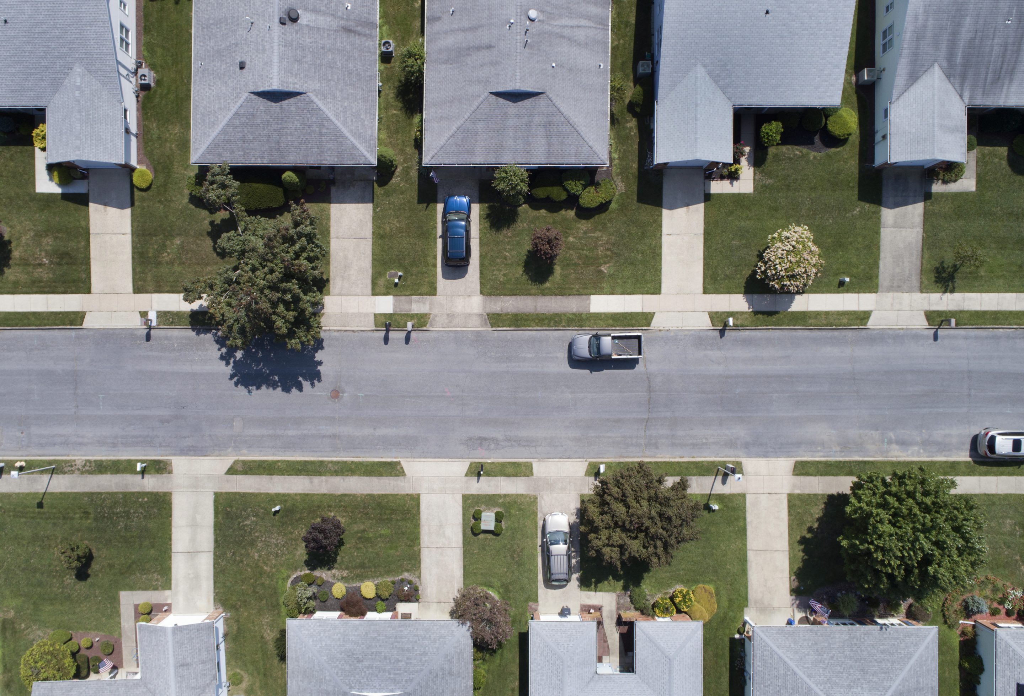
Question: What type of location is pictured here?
residential area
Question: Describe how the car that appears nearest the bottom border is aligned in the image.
vertically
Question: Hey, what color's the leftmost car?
blue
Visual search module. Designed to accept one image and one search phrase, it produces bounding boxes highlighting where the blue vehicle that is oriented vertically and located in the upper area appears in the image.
[440,197,474,267]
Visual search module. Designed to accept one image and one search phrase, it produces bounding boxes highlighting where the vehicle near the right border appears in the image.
[975,429,1024,459]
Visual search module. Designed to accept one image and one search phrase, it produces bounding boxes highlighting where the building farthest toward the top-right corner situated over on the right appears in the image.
[873,0,1024,170]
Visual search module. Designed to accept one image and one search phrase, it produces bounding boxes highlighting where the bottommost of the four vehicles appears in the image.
[541,512,574,584]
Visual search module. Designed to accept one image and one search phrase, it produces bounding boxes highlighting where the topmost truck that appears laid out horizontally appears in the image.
[568,329,644,364]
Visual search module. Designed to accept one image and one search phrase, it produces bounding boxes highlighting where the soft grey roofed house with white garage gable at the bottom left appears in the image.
[34,610,232,696]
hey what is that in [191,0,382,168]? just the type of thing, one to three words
house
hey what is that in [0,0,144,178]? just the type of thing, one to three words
house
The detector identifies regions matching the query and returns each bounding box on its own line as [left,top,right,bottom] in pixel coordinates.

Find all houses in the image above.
[191,0,382,168]
[529,611,703,696]
[286,612,474,696]
[423,0,609,169]
[730,615,938,696]
[873,0,1024,170]
[0,0,144,178]
[34,610,232,696]
[646,0,855,179]
[966,620,1024,696]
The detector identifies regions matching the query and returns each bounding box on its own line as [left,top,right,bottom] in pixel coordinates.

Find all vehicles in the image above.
[541,512,574,584]
[440,197,474,267]
[568,329,644,364]
[975,429,1024,459]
